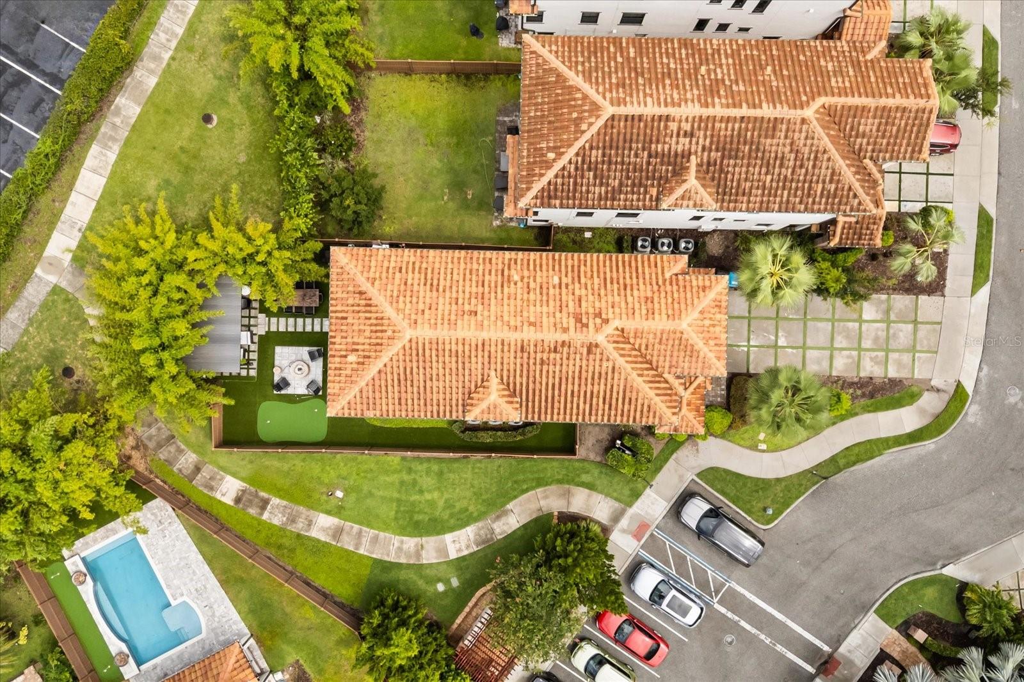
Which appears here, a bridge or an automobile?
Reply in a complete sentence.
I can see an automobile in this picture.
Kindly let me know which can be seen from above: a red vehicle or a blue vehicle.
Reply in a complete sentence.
There is a red vehicle in the scene.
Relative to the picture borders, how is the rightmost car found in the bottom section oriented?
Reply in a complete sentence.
The rightmost car found in the bottom section has been laid out at an angle relative to the frame.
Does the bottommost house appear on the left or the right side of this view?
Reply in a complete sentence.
You can find the bottommost house on the left side of the picture.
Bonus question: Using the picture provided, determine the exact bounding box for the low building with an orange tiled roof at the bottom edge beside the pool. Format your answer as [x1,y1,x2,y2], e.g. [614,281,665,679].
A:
[164,641,261,682]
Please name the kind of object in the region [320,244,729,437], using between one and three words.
house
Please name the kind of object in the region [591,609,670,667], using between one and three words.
car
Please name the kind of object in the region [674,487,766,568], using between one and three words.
car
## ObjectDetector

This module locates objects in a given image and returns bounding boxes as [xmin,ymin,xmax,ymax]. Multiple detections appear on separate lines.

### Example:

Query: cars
[624,556,706,630]
[931,121,962,159]
[535,660,584,682]
[565,629,643,682]
[591,609,670,667]
[674,487,766,568]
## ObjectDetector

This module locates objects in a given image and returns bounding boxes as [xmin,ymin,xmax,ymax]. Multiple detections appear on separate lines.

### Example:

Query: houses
[503,31,945,250]
[164,641,261,682]
[320,244,729,437]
